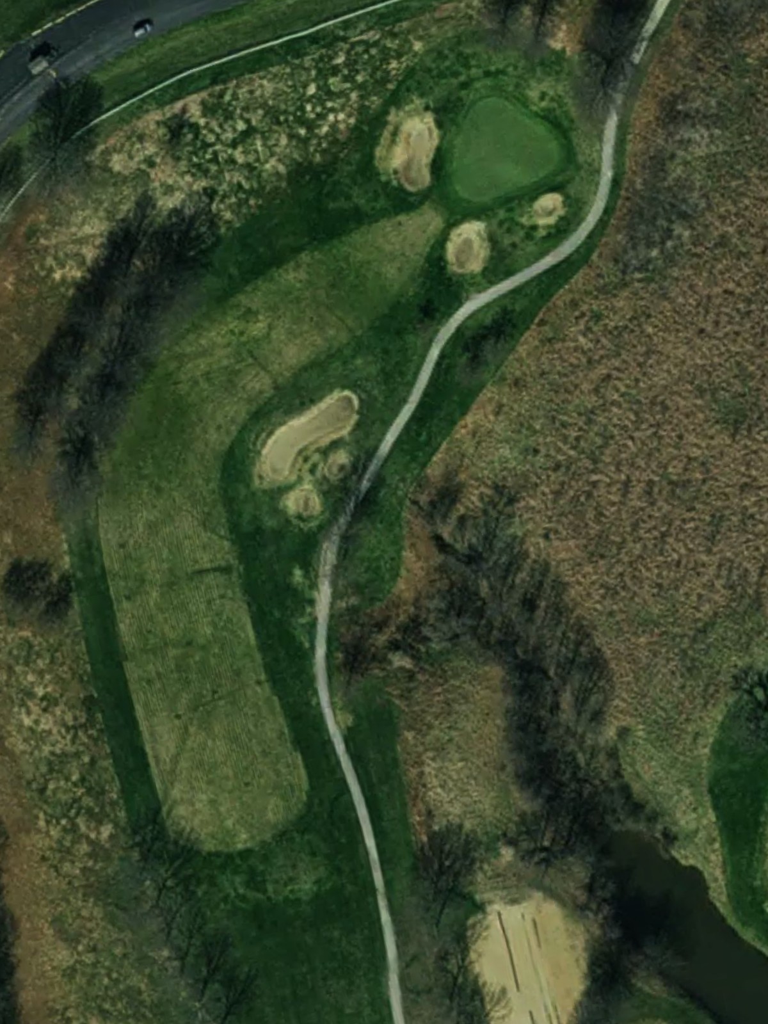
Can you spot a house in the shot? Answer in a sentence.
No, the photo shows no house.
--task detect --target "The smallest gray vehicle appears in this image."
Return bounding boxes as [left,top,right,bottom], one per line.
[134,24,152,37]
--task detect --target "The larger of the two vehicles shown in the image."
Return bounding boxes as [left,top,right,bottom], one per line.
[29,55,51,74]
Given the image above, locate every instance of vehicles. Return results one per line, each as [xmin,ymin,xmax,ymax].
[134,24,152,37]
[29,55,51,74]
